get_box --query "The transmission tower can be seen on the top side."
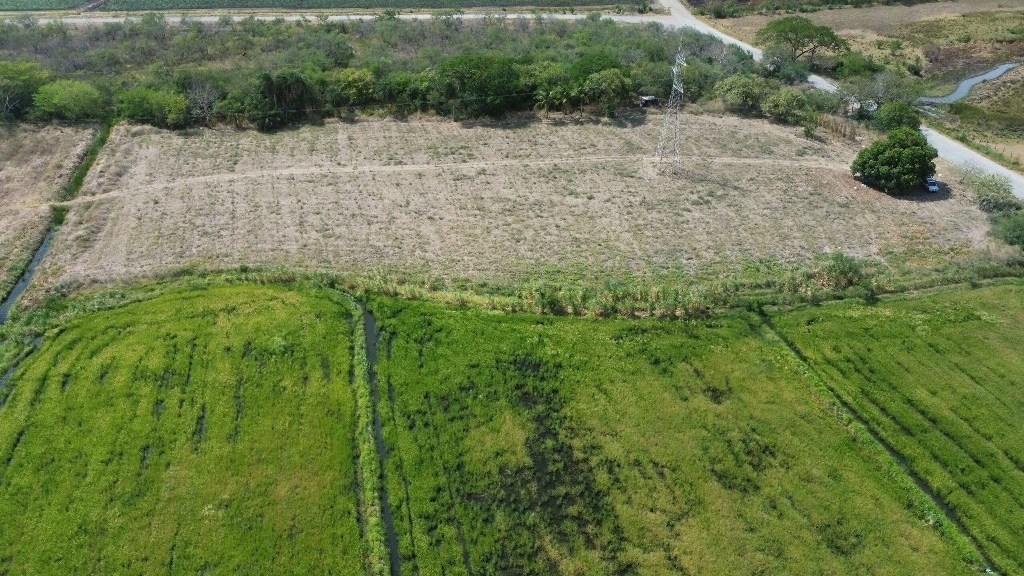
[654,39,685,174]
